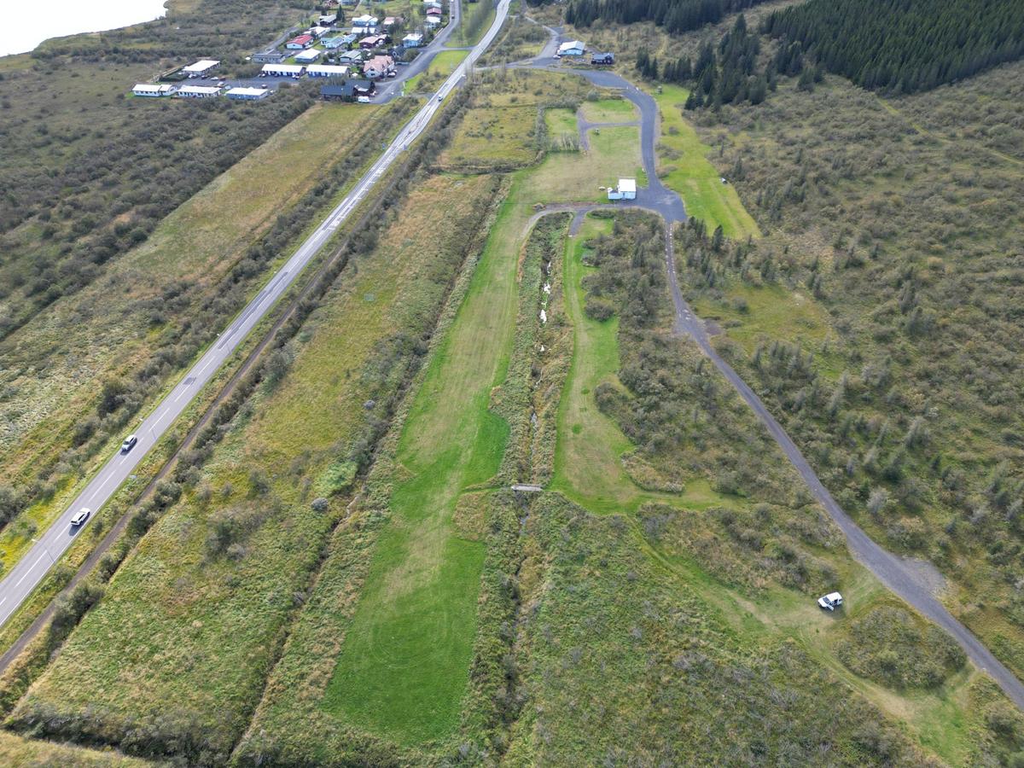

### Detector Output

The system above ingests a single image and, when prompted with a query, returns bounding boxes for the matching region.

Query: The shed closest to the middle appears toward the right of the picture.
[606,181,637,200]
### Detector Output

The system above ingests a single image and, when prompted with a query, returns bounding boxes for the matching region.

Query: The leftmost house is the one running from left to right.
[130,84,180,97]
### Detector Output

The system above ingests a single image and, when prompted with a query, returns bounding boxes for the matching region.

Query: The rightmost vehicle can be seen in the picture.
[818,591,844,610]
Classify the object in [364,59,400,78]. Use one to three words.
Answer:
house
